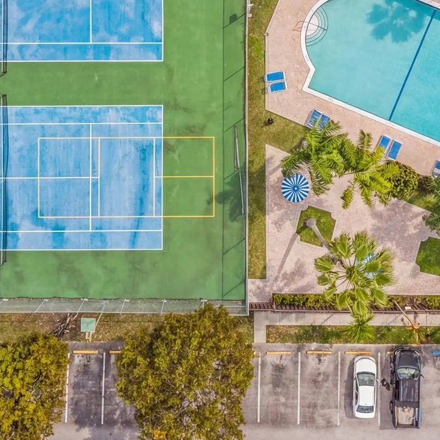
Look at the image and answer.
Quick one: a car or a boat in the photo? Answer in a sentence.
The image shows a car.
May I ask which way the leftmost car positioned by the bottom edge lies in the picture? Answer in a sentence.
Seen from above, the leftmost car positioned by the bottom edge lies from top to bottom.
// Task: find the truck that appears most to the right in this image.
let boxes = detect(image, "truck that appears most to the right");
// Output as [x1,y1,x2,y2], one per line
[393,348,427,431]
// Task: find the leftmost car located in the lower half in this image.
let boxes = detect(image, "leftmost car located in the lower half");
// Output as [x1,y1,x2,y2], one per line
[352,358,381,424]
